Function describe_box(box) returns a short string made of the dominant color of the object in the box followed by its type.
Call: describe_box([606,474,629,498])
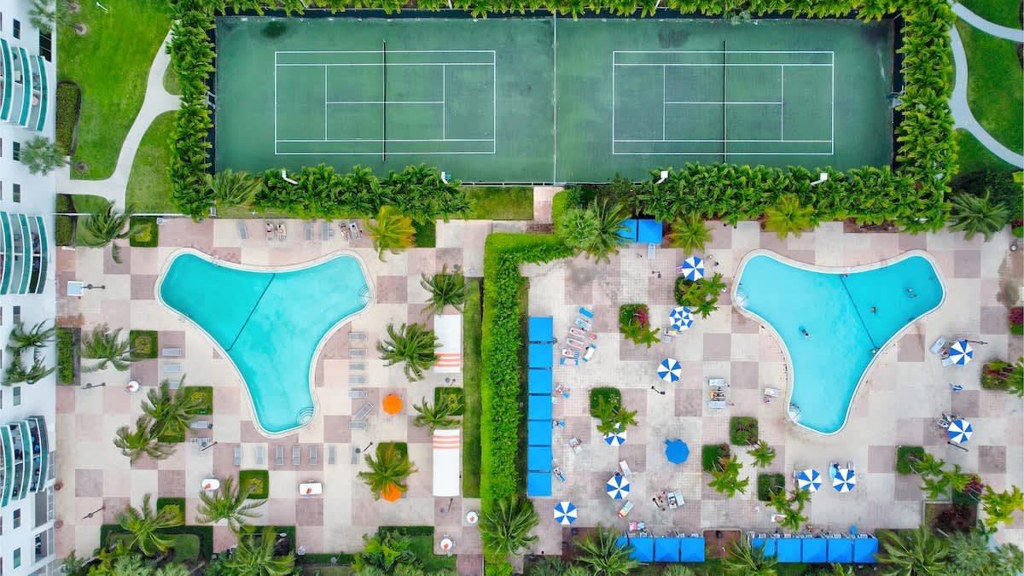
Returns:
white umbrella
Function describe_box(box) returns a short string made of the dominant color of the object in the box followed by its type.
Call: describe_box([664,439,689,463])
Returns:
blue umbrella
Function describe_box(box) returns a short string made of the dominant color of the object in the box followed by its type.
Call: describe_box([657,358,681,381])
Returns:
white umbrella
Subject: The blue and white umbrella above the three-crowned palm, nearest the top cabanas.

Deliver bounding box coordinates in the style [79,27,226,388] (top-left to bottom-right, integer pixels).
[680,256,704,280]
